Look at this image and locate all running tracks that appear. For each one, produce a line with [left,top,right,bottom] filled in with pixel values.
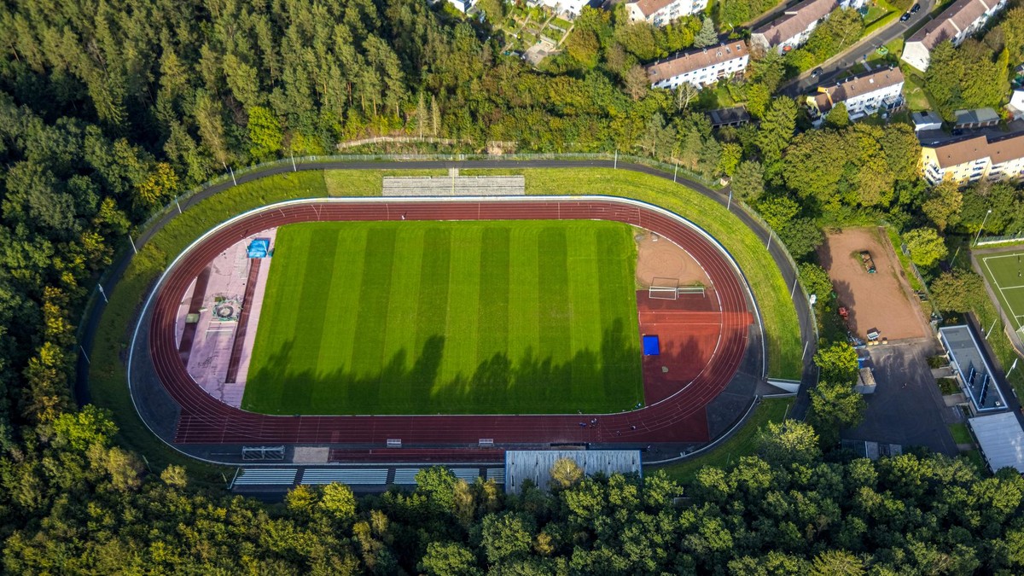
[150,202,755,443]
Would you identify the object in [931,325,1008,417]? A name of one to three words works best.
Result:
building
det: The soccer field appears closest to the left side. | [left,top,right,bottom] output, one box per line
[242,219,644,415]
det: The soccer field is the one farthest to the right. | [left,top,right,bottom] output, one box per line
[974,248,1024,346]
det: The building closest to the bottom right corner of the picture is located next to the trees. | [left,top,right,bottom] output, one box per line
[966,412,1024,479]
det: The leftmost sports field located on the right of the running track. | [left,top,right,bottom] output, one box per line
[826,227,933,345]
